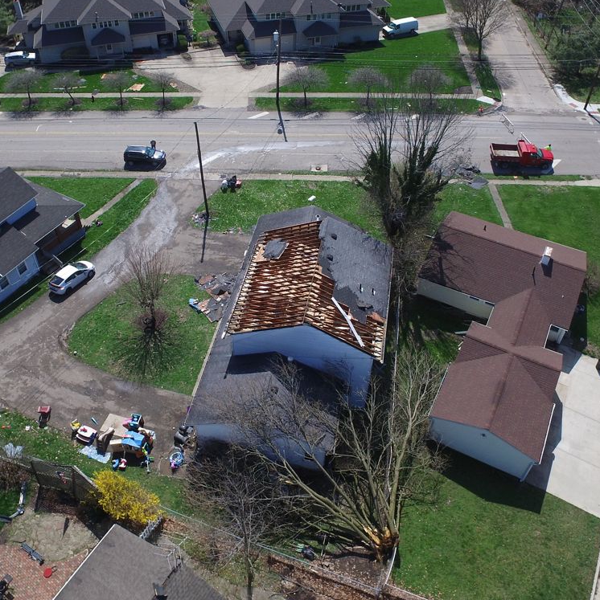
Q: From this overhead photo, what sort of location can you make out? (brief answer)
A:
residential area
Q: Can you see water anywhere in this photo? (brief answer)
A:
No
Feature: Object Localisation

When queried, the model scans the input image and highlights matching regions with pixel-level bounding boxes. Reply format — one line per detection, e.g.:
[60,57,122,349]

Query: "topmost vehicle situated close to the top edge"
[381,15,421,36]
